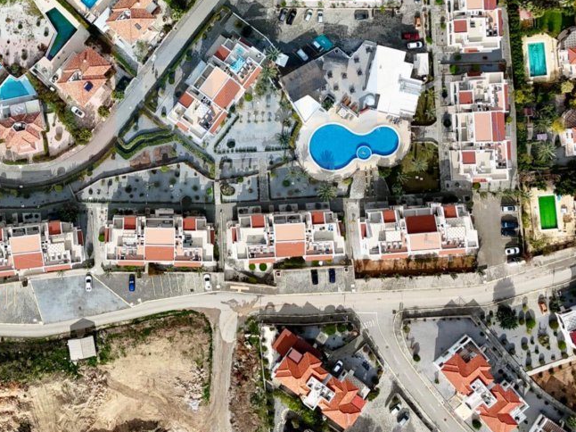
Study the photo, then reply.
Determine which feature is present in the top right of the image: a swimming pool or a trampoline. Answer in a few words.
swimming pool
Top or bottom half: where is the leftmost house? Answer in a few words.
top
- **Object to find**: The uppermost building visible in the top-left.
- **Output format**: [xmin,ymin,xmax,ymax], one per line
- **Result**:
[105,0,161,46]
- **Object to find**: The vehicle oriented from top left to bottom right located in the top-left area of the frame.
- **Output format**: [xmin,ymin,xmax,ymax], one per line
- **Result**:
[70,106,86,118]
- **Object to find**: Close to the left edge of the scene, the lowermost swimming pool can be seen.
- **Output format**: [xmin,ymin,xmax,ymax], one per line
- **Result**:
[0,73,41,104]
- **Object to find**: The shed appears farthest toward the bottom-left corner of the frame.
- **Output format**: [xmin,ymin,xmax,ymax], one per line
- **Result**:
[67,337,96,365]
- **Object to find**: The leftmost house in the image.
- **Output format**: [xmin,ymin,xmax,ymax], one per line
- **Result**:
[0,110,43,154]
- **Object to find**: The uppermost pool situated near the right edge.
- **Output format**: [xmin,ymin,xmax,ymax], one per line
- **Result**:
[523,34,557,82]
